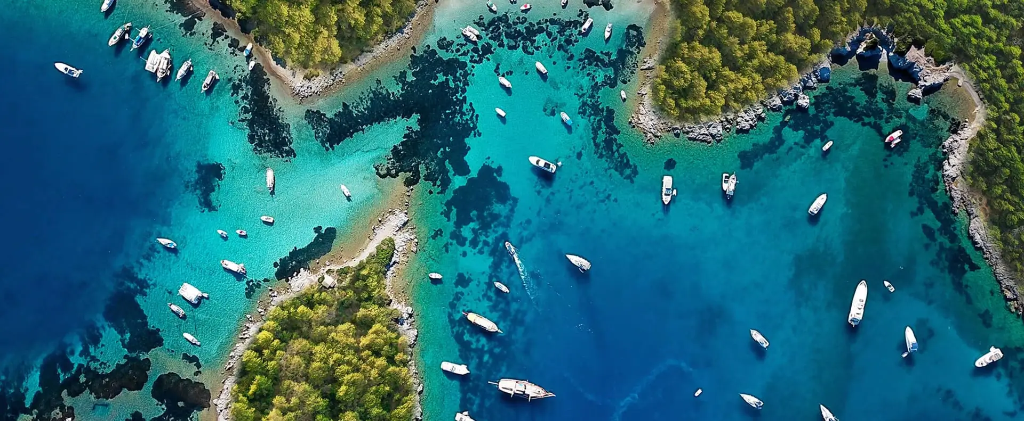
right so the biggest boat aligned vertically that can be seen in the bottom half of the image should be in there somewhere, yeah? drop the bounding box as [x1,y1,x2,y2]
[848,281,867,326]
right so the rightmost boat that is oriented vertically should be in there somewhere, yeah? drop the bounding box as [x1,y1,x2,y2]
[905,327,918,354]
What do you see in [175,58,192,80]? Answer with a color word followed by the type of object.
white boat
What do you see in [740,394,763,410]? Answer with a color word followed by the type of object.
white boat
